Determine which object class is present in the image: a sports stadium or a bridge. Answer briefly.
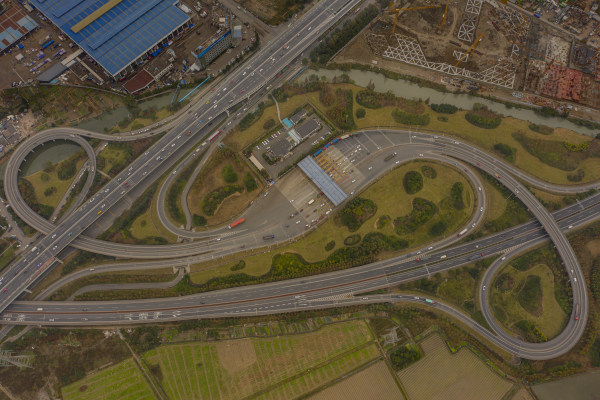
bridge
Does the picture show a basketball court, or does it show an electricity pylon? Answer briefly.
electricity pylon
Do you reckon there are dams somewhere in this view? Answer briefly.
No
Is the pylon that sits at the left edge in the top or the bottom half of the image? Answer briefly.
bottom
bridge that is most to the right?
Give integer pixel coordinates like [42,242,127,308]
[434,141,588,359]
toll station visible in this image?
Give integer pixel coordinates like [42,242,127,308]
[209,128,449,257]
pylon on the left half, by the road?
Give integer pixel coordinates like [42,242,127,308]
[1,344,37,372]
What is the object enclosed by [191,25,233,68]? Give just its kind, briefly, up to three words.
building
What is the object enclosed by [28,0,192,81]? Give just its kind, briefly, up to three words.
building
